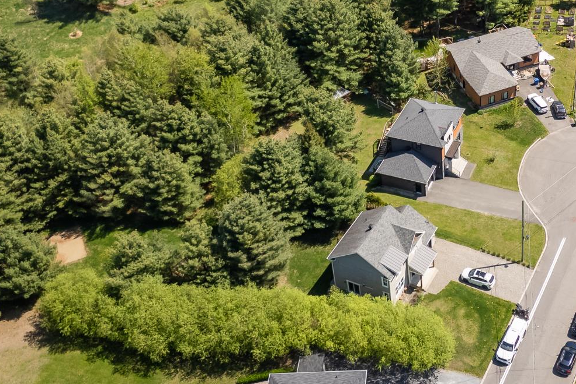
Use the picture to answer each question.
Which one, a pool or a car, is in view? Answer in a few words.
car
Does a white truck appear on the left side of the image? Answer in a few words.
No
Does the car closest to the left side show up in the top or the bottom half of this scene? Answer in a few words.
bottom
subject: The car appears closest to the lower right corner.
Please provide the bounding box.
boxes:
[554,340,576,379]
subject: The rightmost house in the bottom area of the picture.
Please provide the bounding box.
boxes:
[327,205,440,299]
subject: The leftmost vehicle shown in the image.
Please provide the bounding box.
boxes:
[460,268,497,292]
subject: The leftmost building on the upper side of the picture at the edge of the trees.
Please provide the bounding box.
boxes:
[368,97,469,196]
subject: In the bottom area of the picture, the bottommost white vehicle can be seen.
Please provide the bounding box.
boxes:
[496,318,530,366]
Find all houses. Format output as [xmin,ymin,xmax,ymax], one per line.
[267,354,366,384]
[368,97,469,196]
[448,26,541,108]
[327,205,440,299]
